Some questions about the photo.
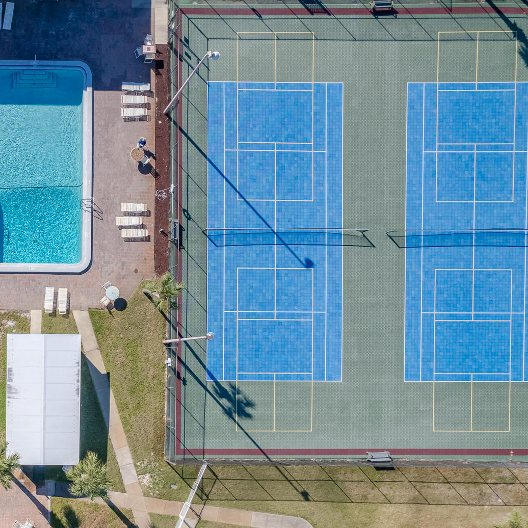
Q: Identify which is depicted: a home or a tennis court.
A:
tennis court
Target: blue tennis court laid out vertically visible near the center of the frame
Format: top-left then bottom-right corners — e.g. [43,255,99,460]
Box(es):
[207,32,344,432]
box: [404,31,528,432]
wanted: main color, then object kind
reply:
blue tennis court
